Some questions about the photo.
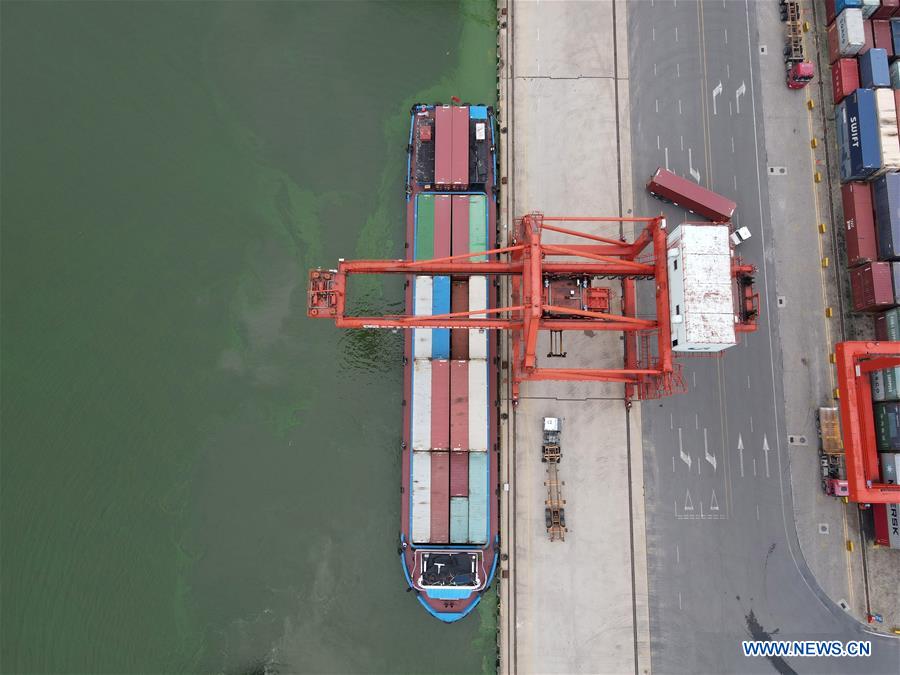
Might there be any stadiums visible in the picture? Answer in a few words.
No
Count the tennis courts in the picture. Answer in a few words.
none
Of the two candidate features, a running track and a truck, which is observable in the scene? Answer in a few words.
truck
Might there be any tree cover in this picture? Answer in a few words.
No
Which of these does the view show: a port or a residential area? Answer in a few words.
port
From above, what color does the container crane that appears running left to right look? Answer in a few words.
red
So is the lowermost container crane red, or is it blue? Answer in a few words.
red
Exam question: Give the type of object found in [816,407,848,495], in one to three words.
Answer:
truck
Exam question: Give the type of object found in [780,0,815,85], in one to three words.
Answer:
truck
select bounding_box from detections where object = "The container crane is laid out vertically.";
[834,341,900,511]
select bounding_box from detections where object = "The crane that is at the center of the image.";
[308,206,766,407]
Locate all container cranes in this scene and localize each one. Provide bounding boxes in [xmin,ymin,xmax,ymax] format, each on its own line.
[834,341,900,511]
[308,206,766,407]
